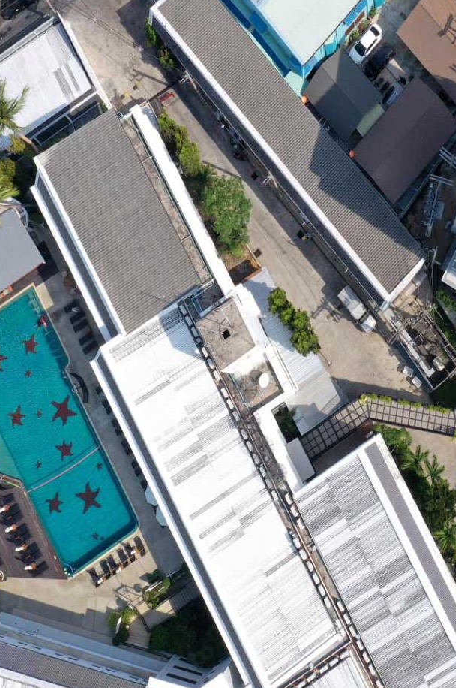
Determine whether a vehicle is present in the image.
Yes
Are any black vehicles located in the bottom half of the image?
No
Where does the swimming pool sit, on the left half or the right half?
left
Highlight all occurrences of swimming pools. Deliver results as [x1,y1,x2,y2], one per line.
[0,281,139,579]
